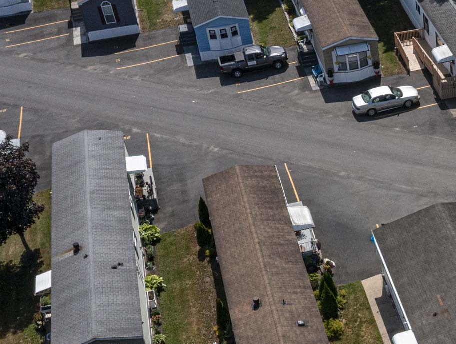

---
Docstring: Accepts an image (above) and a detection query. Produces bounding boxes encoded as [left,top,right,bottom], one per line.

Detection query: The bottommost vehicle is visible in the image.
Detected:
[349,83,420,115]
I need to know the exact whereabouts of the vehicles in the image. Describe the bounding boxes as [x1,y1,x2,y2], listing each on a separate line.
[349,83,420,115]
[219,41,291,75]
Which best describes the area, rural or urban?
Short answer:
urban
